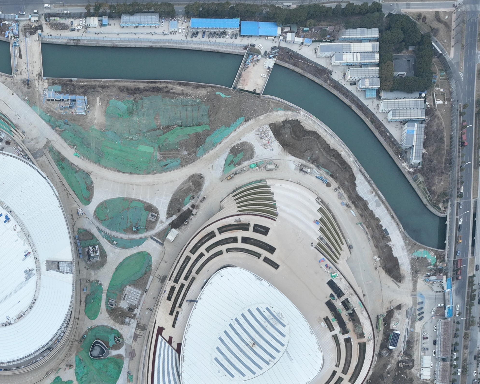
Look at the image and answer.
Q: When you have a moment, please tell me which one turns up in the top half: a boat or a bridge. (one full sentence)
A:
What appears in the top half is a bridge.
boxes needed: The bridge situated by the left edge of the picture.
[13,38,44,80]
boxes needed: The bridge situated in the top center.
[228,42,276,98]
